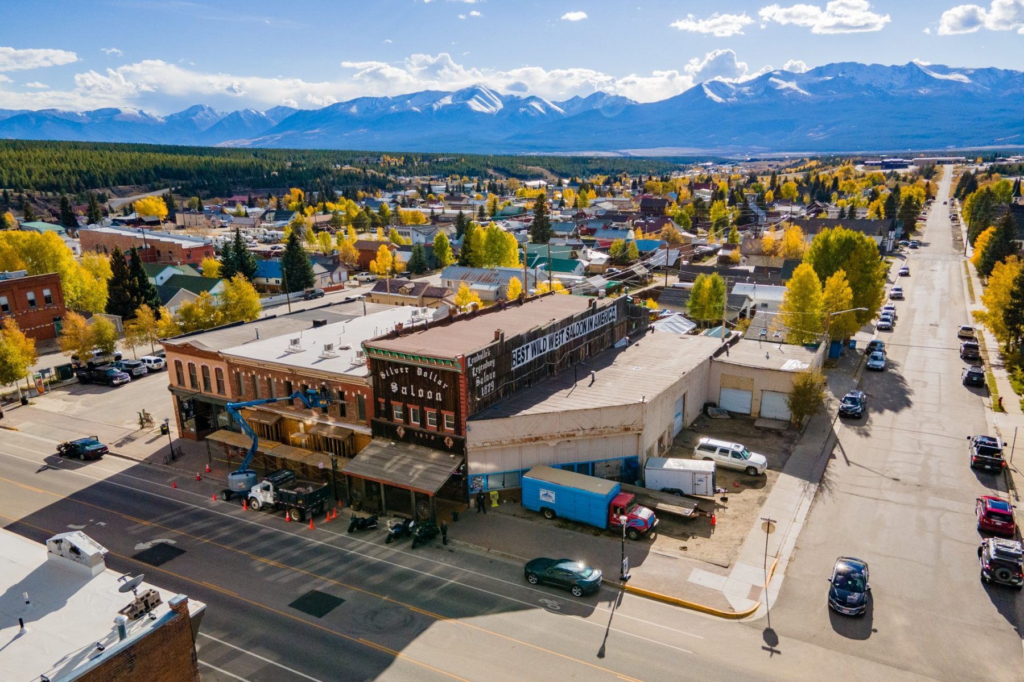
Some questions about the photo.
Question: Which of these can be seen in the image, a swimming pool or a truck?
truck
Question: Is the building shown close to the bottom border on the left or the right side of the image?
left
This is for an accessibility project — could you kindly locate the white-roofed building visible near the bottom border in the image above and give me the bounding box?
[0,525,204,682]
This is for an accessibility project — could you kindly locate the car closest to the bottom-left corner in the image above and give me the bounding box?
[53,430,106,460]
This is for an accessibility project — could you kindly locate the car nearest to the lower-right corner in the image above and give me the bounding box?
[984,535,1024,584]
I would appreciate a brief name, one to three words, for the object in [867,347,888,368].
car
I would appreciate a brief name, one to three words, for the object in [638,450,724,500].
trailer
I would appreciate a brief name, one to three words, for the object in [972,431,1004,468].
truck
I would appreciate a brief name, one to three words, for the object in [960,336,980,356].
vehicle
